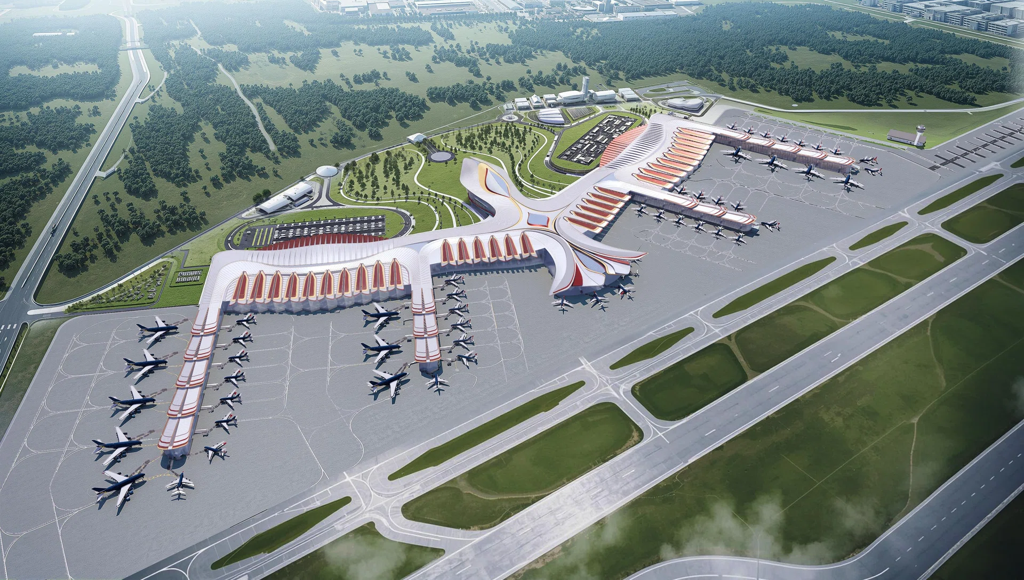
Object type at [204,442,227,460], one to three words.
airplane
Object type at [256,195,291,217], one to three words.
hangar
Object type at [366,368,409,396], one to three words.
airplane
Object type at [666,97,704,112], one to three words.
building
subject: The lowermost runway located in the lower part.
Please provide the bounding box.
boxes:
[628,422,1024,580]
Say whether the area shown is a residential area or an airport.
airport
